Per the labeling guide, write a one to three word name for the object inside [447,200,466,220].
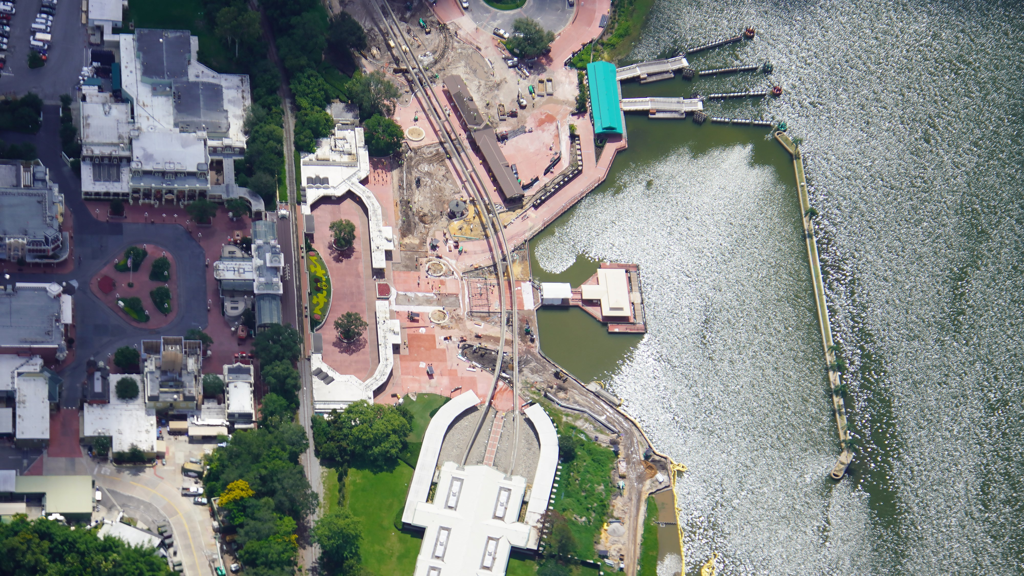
gazebo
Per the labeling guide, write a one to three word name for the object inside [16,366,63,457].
building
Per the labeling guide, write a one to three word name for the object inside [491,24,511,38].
vehicle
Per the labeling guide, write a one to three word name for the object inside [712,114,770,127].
pier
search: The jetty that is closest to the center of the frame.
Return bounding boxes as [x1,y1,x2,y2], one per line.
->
[570,261,647,337]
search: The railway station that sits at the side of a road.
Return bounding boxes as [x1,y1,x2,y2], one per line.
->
[214,210,298,339]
